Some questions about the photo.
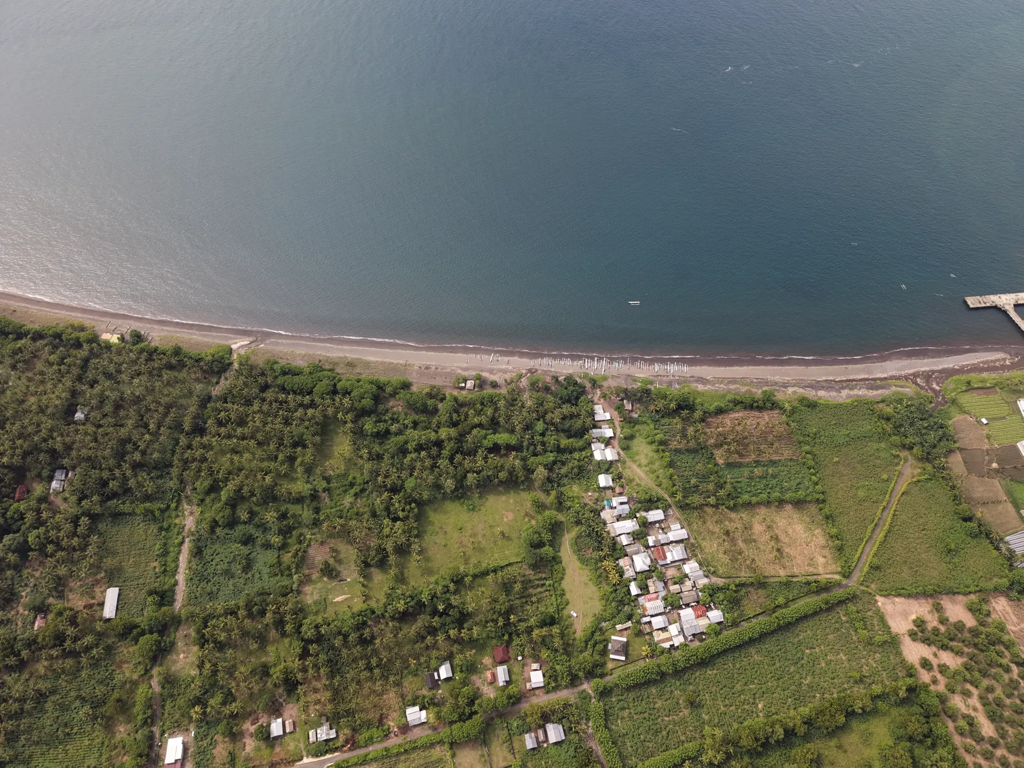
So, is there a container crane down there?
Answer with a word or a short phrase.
No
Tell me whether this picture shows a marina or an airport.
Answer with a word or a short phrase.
marina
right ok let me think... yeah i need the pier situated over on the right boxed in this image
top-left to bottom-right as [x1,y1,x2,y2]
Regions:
[964,292,1024,331]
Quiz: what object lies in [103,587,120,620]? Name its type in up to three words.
barn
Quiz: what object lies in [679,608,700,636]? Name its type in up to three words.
house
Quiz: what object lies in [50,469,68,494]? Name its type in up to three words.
house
